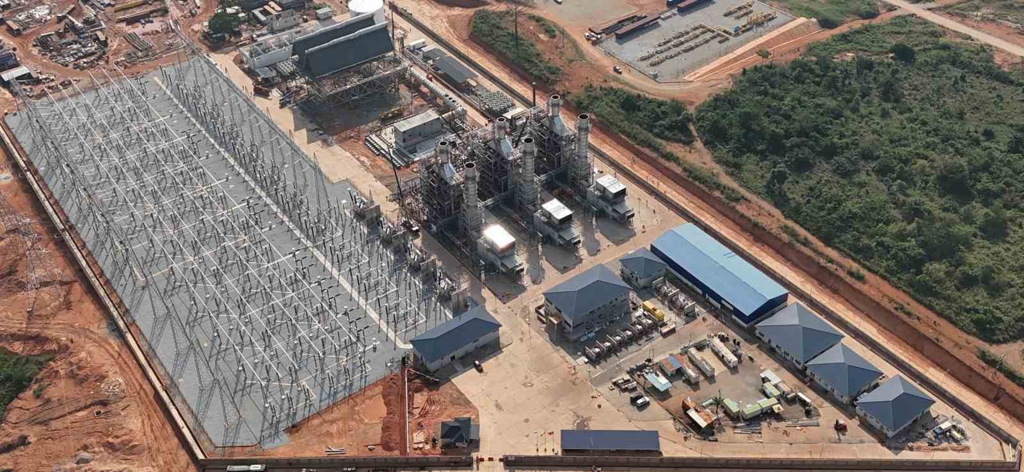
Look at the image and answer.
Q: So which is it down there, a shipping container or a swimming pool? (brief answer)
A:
shipping container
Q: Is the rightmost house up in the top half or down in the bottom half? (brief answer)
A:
bottom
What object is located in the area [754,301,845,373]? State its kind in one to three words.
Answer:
house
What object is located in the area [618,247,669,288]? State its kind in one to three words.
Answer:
building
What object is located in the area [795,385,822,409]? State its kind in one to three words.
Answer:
truck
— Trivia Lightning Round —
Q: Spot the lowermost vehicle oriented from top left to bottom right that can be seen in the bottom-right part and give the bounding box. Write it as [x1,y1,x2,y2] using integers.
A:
[831,411,848,432]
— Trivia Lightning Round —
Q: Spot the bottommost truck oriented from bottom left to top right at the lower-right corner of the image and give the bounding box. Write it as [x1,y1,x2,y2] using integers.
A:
[934,415,960,438]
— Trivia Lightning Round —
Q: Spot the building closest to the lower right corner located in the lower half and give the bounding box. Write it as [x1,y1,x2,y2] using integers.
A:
[853,373,933,440]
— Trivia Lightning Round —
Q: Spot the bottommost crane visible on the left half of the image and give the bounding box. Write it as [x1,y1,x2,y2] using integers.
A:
[386,146,419,237]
